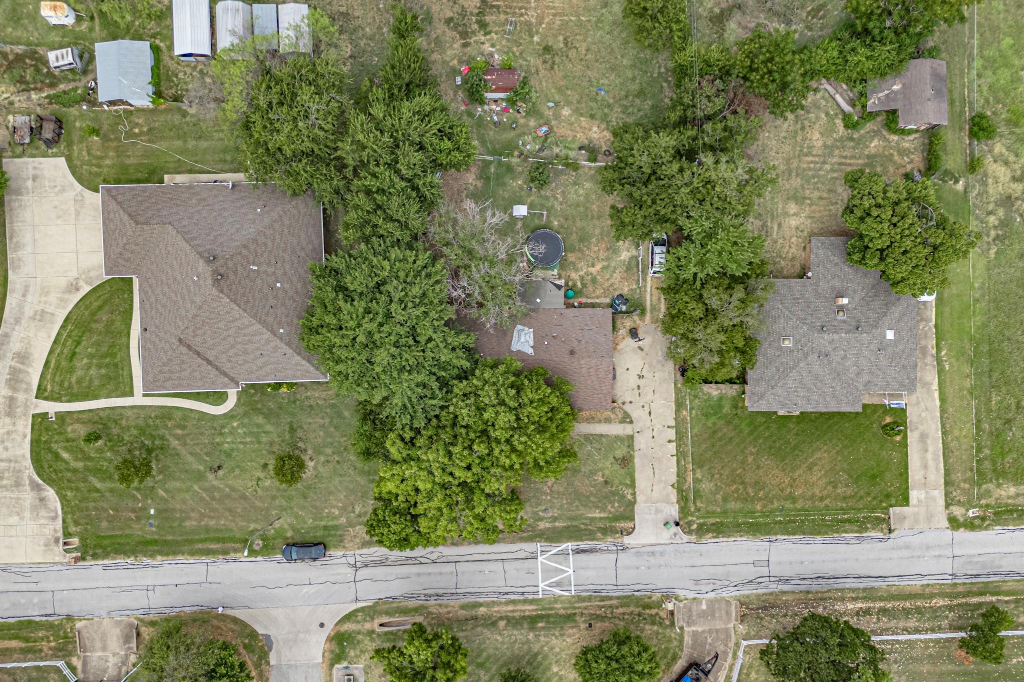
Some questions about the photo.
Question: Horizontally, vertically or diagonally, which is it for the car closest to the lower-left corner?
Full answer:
The car closest to the lower-left corner runs horizontally in the image.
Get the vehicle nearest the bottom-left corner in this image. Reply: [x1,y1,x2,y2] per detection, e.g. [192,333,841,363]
[282,545,323,565]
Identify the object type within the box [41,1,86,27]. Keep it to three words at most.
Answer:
trailer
